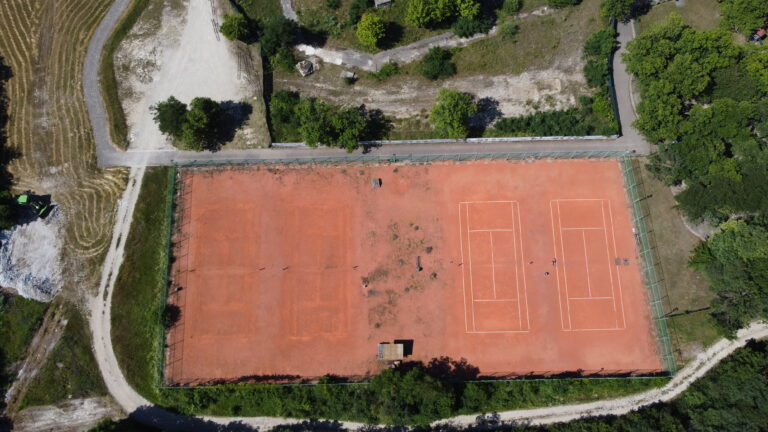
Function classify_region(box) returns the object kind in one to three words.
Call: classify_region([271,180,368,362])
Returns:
tennis court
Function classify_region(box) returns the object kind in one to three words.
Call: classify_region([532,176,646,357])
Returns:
tennis court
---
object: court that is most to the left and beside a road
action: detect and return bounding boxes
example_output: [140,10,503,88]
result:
[173,182,276,364]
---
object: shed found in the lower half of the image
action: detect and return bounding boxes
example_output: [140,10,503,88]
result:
[382,343,401,358]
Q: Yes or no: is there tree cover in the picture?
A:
Yes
